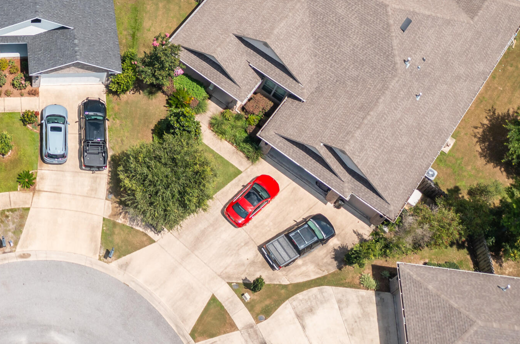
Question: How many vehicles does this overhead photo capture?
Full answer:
The picture shows 4 vehicles.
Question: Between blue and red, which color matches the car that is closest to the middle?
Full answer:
The car that is closest to the middle is red.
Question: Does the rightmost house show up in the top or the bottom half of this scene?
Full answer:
You can find the rightmost house in the bottom half.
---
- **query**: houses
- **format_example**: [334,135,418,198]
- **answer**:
[0,0,122,86]
[166,0,520,223]
[391,260,520,344]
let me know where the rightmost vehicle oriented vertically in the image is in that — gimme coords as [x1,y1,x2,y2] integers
[80,93,111,173]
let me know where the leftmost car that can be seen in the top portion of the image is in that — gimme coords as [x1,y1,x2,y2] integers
[40,104,72,165]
